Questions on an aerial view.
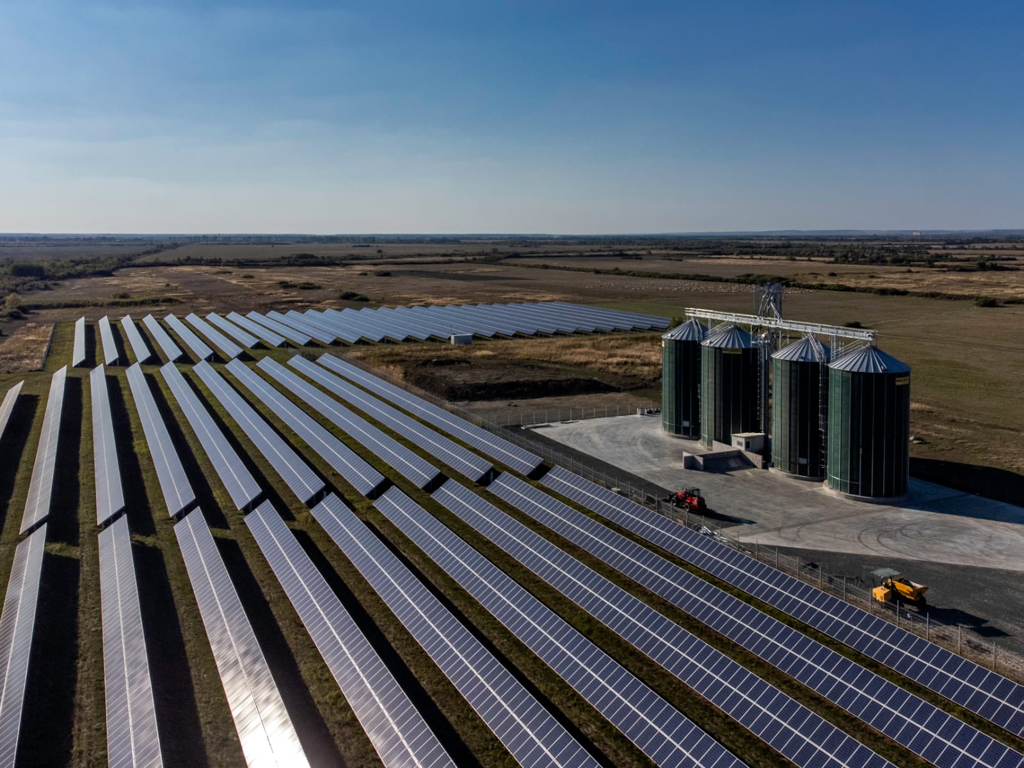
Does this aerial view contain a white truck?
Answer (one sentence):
No, I can't see a single white truck in this photo.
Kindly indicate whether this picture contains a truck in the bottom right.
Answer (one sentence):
Yes, looking in the bottom right, one can make out a truck.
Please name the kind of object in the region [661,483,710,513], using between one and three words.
work vehicle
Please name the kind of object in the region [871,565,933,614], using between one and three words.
truck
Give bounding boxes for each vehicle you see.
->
[871,565,933,614]
[661,483,710,513]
